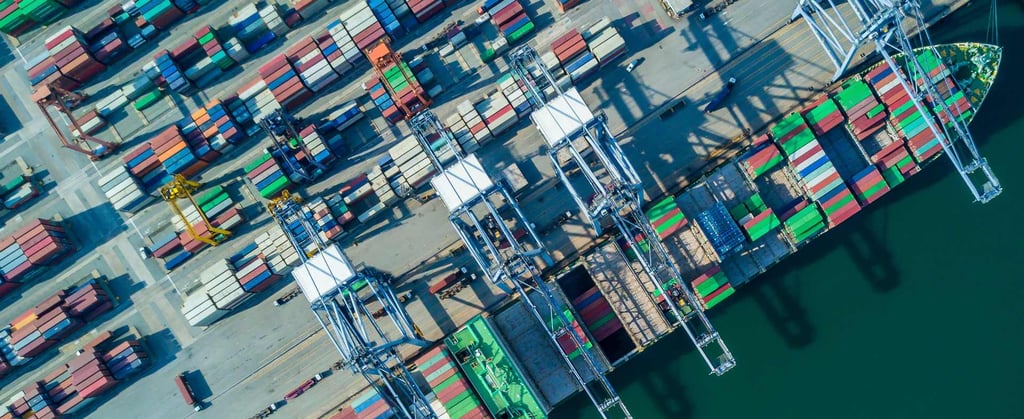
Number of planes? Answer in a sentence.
There are no planes in this view.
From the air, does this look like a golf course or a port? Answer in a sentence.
The area seen from above is a port.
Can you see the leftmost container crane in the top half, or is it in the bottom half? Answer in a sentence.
The top half of the photo is where the leftmost container crane is.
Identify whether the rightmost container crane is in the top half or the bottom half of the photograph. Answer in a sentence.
You can find the rightmost container crane in the top half.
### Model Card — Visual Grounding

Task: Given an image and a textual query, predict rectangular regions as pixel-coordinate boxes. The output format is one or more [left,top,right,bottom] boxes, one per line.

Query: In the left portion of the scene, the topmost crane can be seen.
[363,38,433,117]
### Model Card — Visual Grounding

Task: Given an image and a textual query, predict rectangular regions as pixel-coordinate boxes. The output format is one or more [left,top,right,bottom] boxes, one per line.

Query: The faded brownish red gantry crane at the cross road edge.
[27,83,117,161]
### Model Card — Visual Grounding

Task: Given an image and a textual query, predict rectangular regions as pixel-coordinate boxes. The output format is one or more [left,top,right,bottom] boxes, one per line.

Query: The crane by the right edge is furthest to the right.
[782,0,1004,202]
